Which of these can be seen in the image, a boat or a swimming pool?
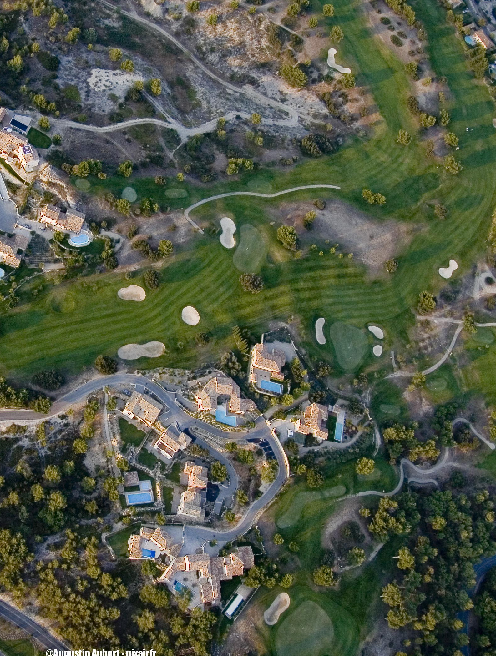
swimming pool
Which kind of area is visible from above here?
golf course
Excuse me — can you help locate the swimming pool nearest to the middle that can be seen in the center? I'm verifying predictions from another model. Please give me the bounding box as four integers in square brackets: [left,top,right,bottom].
[260,378,284,395]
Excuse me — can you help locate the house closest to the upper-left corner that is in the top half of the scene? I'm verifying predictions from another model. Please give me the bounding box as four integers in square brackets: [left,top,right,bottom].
[0,130,39,174]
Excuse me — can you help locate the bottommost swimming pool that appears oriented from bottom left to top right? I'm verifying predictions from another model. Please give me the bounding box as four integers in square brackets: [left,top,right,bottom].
[224,594,245,618]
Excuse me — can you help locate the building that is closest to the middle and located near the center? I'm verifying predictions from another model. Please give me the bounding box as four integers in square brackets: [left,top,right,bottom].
[251,342,286,383]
